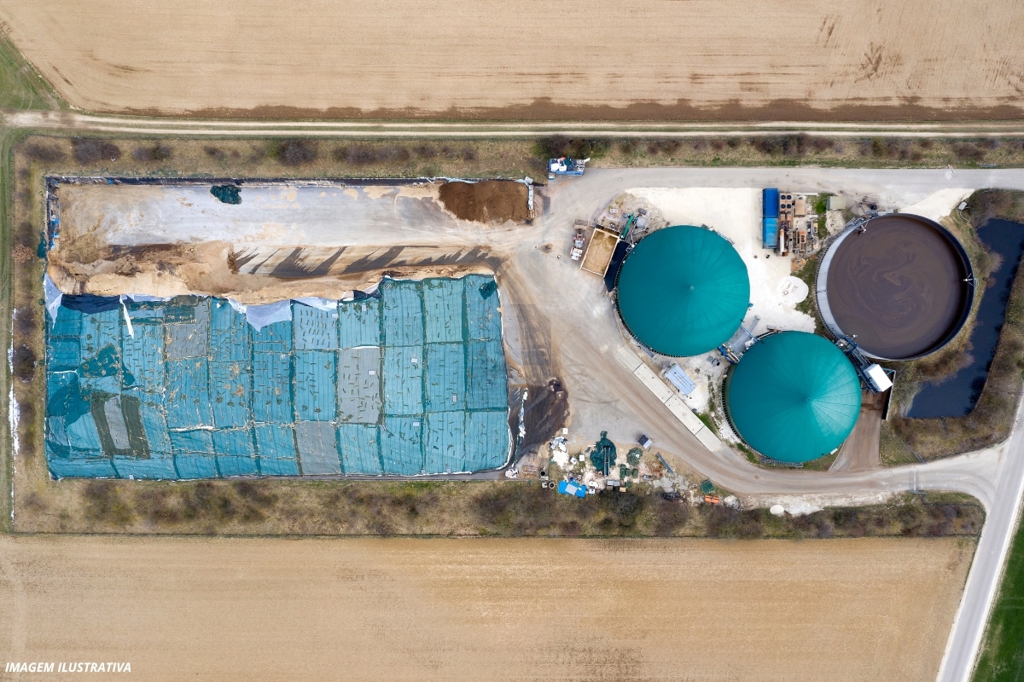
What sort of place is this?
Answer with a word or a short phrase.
industrial area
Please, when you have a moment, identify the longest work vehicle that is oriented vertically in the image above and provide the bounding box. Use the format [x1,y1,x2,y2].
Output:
[570,220,585,260]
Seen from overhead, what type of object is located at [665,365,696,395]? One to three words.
shed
